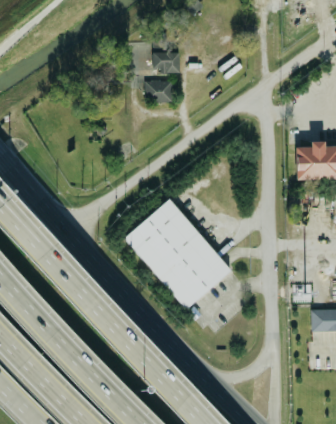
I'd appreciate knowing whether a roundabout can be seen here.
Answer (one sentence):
No, no roundabout is visible in the view.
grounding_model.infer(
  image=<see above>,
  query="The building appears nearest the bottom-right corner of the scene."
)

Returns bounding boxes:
[310,310,336,332]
